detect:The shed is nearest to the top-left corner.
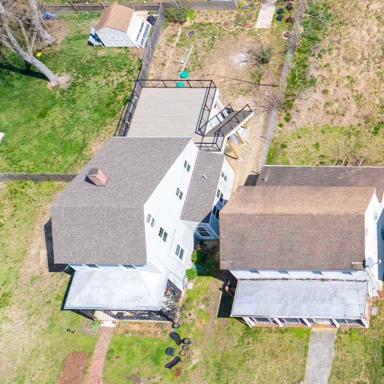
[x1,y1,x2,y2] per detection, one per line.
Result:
[95,3,141,44]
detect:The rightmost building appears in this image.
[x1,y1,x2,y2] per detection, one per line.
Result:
[218,166,384,328]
